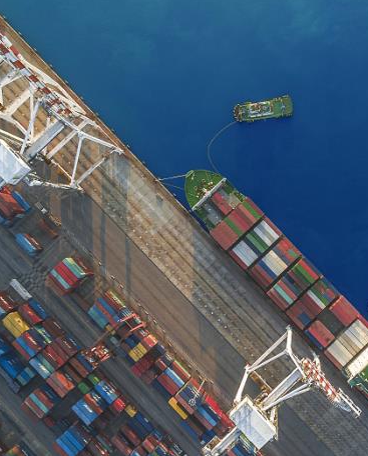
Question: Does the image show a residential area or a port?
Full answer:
The picture captures a port.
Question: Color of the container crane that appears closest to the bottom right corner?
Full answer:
The container crane that appears closest to the bottom right corner looks white in the image.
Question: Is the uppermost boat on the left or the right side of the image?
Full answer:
You can find the uppermost boat on the right side of the picture.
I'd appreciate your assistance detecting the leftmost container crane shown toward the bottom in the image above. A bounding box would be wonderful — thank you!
[80,307,148,368]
